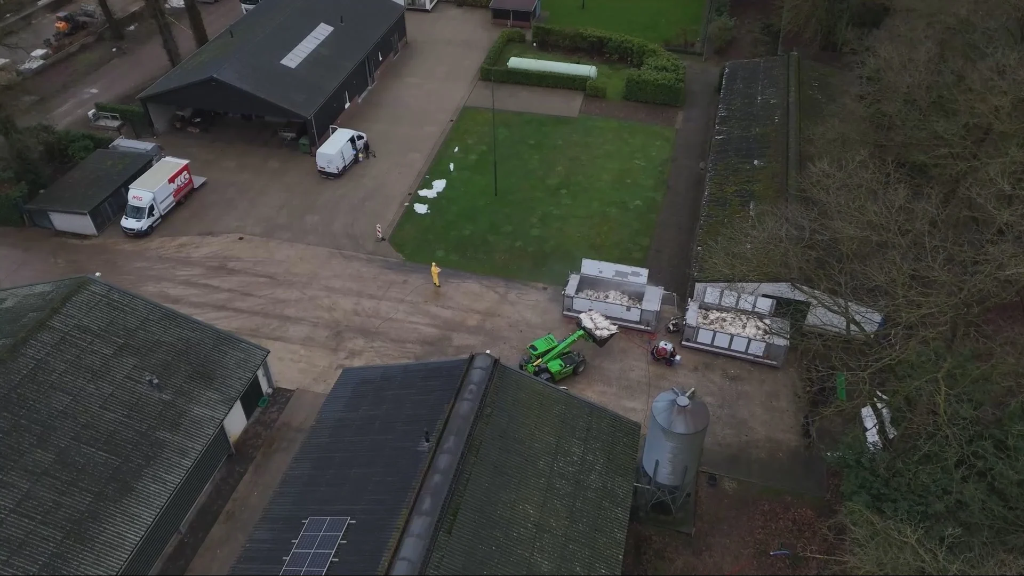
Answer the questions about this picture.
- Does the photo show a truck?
Yes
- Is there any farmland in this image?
No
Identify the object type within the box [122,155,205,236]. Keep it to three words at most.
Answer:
truck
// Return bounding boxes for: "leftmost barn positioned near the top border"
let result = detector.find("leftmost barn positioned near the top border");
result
[135,0,410,155]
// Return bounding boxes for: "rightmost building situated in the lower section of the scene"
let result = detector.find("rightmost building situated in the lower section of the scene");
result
[226,349,642,576]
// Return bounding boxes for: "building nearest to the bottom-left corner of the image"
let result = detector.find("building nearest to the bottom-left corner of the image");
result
[0,273,273,576]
